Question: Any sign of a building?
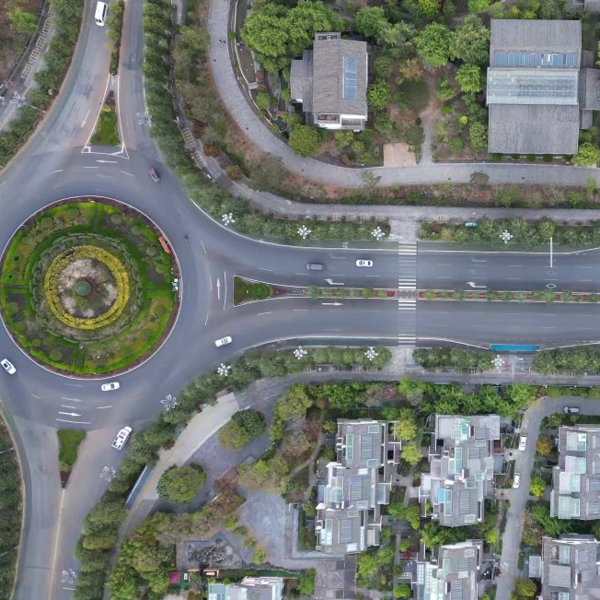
Yes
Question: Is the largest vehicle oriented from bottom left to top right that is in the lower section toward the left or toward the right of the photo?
left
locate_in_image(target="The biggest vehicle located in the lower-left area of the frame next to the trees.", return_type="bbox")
[112,426,131,450]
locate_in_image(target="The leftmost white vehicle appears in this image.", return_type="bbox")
[1,358,15,374]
